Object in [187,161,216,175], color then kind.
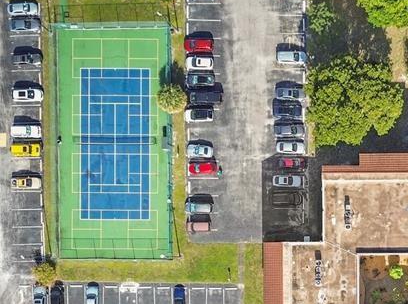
red car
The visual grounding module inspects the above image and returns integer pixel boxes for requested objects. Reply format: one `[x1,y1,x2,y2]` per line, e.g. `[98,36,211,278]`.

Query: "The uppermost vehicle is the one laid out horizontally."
[9,2,40,17]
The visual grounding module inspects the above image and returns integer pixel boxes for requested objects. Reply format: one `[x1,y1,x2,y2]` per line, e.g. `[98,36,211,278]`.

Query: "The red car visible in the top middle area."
[183,38,213,53]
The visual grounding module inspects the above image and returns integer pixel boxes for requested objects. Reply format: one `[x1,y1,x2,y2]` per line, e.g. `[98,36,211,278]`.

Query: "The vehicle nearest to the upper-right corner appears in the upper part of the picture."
[275,49,307,64]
